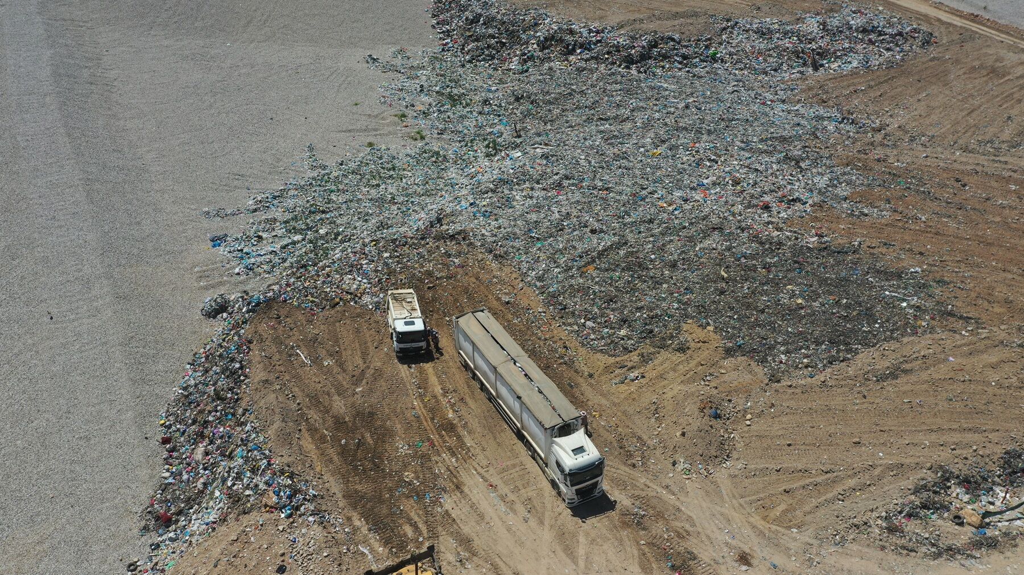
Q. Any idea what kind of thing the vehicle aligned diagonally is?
truck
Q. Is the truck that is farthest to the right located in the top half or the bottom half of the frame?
bottom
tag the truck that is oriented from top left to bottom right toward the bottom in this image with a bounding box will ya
[455,309,609,503]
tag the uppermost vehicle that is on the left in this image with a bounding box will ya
[385,286,429,358]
